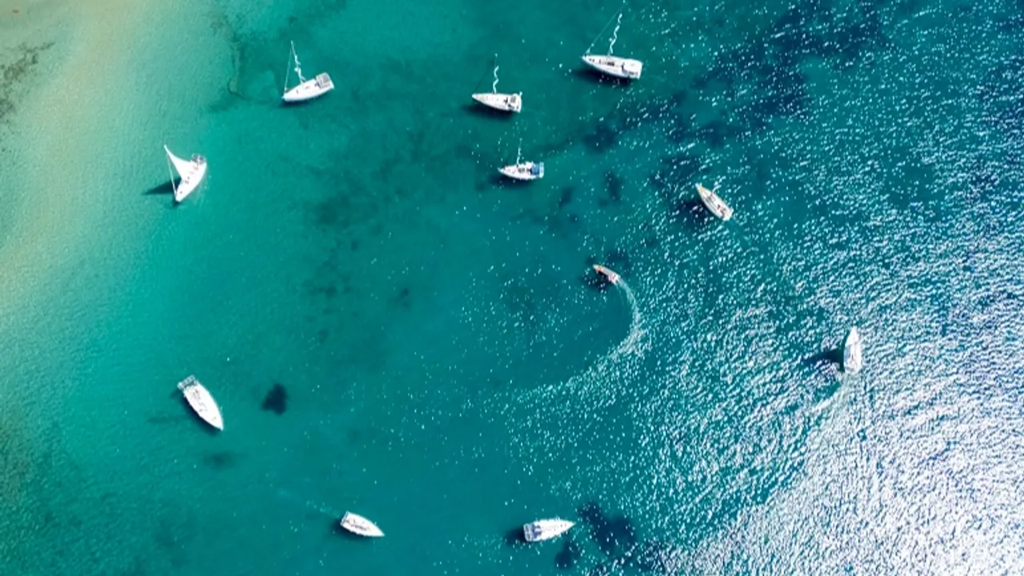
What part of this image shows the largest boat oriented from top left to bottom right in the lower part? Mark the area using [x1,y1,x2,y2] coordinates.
[179,379,225,431]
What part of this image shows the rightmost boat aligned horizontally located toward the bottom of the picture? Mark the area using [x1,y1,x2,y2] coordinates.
[518,517,575,542]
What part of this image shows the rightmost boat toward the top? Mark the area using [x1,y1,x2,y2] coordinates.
[696,170,736,222]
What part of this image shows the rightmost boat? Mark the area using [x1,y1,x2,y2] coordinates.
[842,321,886,377]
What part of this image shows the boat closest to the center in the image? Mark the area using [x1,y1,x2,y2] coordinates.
[594,265,621,286]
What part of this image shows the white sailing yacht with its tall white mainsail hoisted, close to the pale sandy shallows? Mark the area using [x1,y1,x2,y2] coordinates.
[163,144,210,204]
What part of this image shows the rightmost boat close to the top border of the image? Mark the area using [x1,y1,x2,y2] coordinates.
[581,4,643,80]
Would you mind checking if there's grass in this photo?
No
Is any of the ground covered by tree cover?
No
